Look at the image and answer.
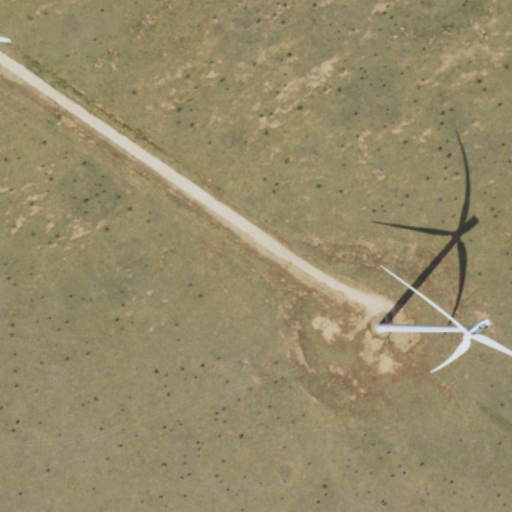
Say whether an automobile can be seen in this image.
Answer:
No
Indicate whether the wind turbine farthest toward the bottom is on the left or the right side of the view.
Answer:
right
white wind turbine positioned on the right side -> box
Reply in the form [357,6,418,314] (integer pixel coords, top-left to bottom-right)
[372,268,512,372]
